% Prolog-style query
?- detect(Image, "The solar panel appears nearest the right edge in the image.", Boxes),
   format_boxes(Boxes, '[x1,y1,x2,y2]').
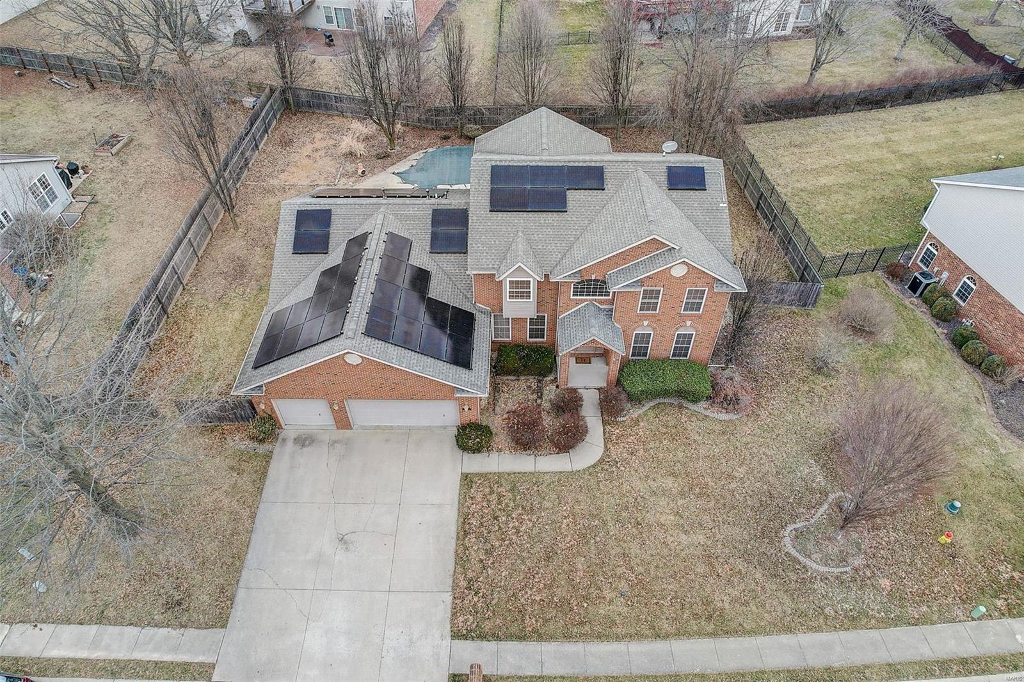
[667,167,705,192]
